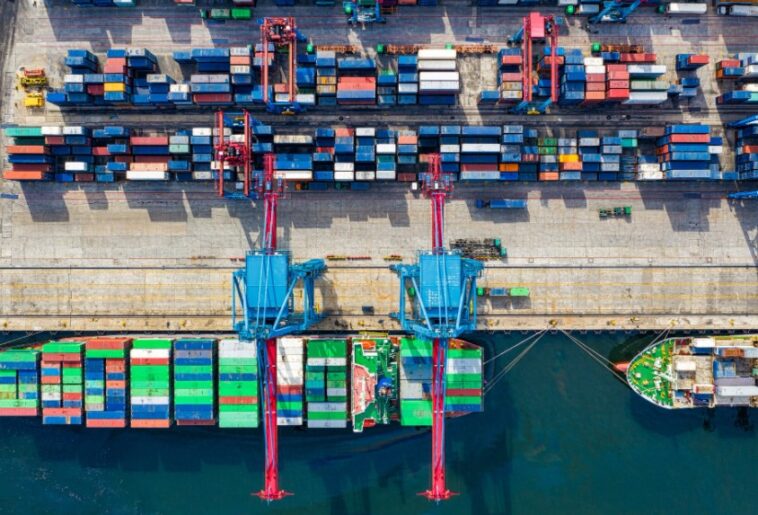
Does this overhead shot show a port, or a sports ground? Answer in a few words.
port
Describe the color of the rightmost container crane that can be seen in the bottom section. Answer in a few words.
blue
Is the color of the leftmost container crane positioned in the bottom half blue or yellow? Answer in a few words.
blue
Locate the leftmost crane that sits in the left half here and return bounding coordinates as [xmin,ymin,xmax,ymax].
[217,113,268,204]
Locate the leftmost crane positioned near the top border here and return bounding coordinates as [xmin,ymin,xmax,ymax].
[261,18,309,118]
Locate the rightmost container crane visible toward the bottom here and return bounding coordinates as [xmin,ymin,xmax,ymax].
[387,154,488,502]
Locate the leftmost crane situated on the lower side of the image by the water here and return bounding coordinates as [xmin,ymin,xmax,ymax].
[227,154,332,502]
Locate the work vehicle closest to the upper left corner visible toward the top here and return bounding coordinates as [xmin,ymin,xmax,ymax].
[16,77,44,106]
